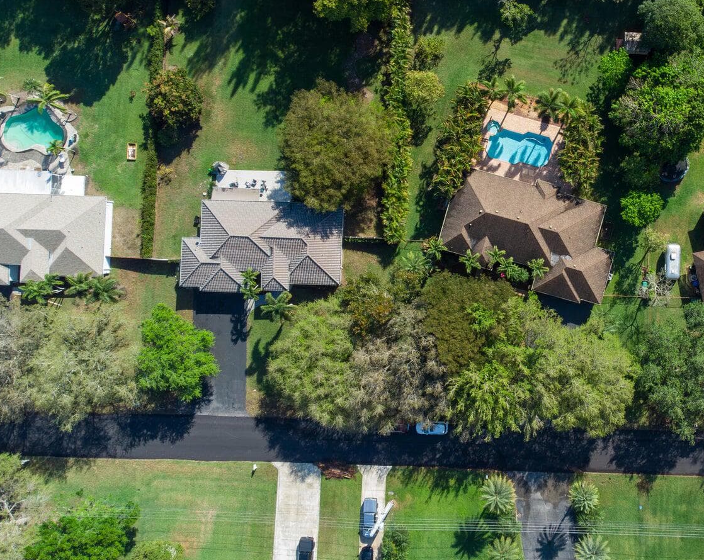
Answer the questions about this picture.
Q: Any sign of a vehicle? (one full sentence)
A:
Yes, I can see a vehicle in this picture.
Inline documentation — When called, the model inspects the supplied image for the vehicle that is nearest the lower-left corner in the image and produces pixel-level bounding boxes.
[299,535,316,560]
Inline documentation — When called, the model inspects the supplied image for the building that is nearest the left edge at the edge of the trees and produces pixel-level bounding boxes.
[0,193,114,284]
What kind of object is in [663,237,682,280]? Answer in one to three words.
trailer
